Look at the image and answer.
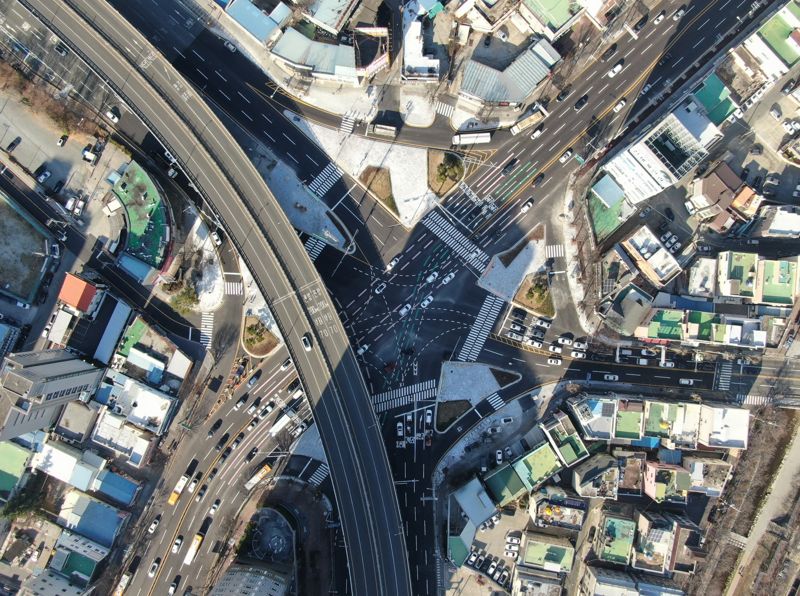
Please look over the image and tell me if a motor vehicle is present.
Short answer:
Yes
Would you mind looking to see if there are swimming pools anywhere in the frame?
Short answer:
No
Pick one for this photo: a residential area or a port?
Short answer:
residential area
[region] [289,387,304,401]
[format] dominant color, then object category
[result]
white vehicle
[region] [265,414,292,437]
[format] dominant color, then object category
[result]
white truck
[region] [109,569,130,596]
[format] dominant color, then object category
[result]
white bus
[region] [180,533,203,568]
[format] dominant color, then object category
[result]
white bus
